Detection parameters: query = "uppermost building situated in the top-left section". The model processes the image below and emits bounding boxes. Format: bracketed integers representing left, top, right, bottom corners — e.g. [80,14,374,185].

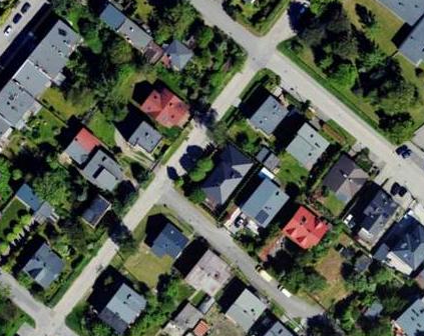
[101,3,125,30]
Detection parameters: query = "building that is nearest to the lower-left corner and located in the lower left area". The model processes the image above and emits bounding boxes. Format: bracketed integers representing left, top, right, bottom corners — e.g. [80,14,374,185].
[24,244,64,288]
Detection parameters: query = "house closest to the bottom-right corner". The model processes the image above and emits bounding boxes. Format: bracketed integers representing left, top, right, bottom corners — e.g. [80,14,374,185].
[395,298,424,336]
